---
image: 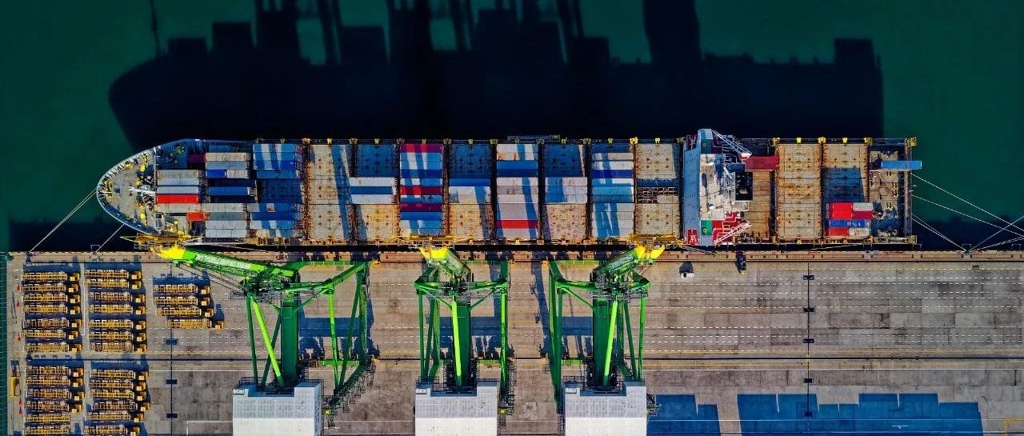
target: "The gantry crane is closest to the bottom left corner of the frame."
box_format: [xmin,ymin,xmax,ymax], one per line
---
[121,230,379,436]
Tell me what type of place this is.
port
